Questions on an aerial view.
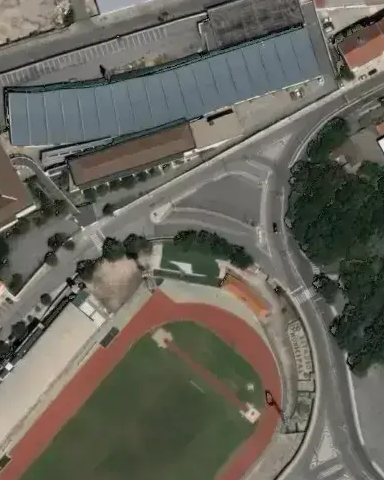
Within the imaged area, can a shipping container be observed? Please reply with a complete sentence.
No, no shipping container can be seen from above.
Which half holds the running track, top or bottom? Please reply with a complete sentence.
The running track sits in the bottom half of the picture.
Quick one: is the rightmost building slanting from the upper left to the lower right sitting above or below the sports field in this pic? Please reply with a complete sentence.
Looking at the scene, the rightmost building slanting from the upper left to the lower right is located above the sports field.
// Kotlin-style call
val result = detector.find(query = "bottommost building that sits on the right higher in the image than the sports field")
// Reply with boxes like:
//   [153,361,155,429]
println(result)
[223,275,268,317]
